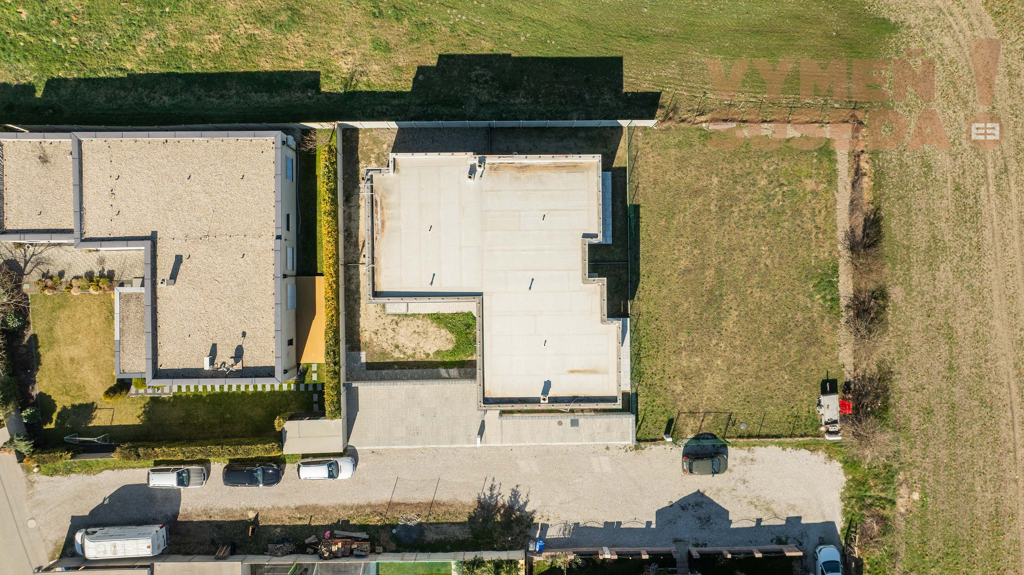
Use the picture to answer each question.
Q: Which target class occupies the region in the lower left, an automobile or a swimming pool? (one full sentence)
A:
Looking in the lower left, you will find an automobile.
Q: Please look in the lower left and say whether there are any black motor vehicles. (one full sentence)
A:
Yes, the scene does show a black motor vehicle in the lower left.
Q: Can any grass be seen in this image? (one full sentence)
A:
Yes, some grass is visible.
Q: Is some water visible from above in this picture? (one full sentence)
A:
No, there is no water in the image.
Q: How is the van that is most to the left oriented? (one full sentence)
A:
From this overhead view, the van that is most to the left appears to run from side to side.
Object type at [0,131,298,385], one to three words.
house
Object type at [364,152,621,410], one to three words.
house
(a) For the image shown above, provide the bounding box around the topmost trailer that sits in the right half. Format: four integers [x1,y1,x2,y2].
[814,380,841,426]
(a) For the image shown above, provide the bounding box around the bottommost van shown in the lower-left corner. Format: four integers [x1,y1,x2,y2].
[77,523,169,563]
